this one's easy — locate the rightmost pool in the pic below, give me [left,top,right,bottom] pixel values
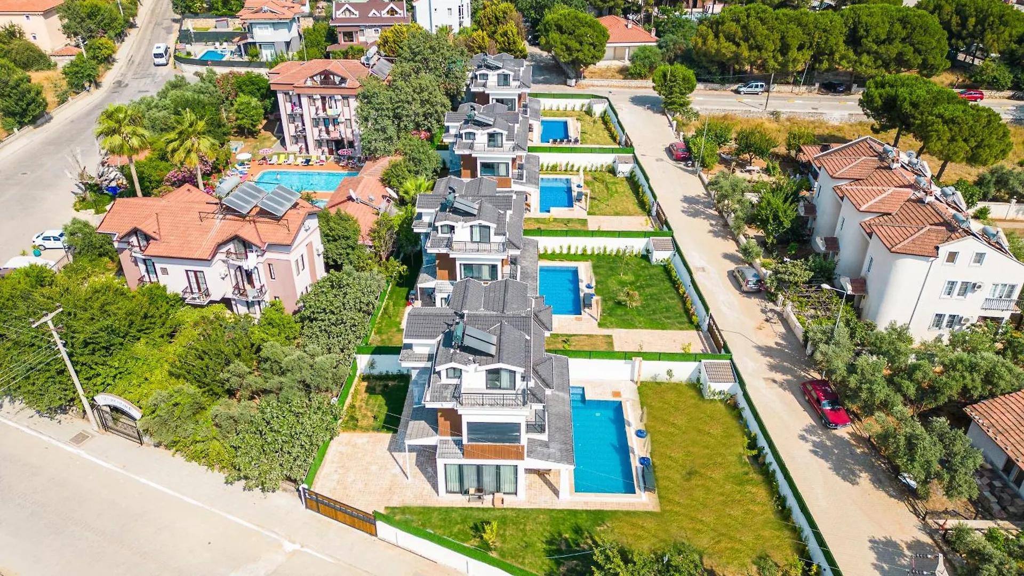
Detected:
[569,383,643,498]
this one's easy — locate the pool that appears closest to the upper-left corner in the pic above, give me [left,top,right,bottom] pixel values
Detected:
[195,48,237,61]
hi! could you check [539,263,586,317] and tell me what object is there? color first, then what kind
blue swimming pool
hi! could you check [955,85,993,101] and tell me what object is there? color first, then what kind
red car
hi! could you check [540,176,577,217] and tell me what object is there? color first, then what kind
blue swimming pool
